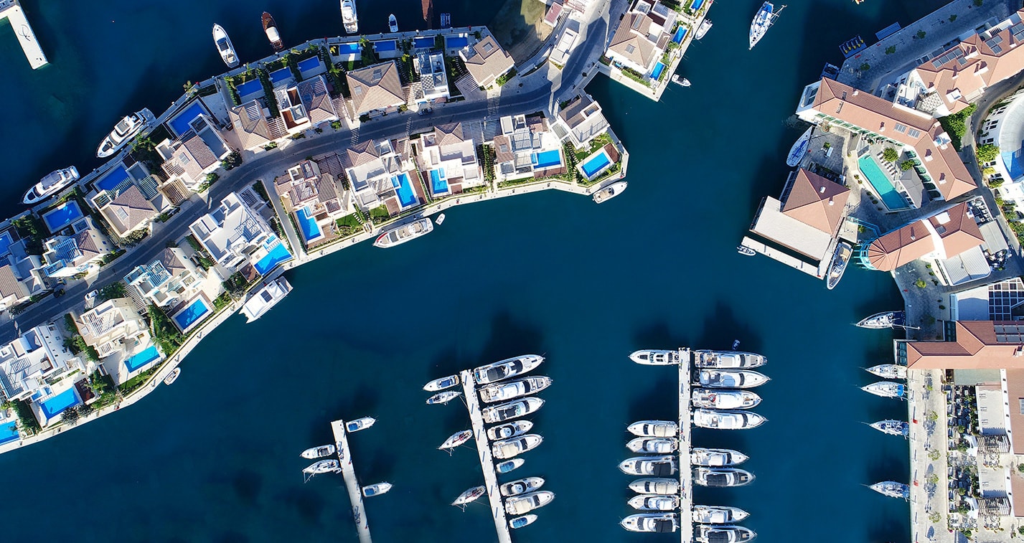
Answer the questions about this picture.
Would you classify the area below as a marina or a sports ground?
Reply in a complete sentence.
What you see here is a marina.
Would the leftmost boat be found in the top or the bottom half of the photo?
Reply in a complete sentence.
The leftmost boat is in the top half of the image.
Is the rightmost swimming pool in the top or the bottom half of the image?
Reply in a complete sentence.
The rightmost swimming pool sits in the top half of the picture.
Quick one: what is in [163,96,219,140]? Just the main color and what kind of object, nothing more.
blue swimming pool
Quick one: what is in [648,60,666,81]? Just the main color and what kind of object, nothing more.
blue swimming pool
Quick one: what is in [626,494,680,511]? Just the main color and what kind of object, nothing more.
white boat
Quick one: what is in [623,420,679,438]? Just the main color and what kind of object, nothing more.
white boat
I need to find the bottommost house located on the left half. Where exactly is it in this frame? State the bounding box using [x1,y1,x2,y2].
[0,327,90,403]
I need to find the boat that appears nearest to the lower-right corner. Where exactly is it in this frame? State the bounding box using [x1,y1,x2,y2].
[867,482,912,503]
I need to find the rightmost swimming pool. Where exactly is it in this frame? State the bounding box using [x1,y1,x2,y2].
[854,151,913,215]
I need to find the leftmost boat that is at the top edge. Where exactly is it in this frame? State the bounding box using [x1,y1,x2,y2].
[211,21,240,70]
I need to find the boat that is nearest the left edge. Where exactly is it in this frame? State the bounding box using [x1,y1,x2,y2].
[16,165,82,204]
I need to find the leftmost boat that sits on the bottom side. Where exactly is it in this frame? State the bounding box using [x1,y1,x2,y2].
[165,368,185,386]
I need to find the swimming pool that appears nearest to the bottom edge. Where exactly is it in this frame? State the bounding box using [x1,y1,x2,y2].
[0,418,23,446]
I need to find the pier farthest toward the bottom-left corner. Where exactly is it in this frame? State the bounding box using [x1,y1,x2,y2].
[331,419,372,543]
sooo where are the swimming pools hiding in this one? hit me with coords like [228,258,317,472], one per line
[120,343,165,378]
[421,167,463,196]
[267,64,295,88]
[31,378,95,422]
[337,40,363,60]
[293,204,339,247]
[0,231,18,255]
[163,96,219,140]
[444,34,470,56]
[92,154,136,193]
[531,147,567,177]
[412,34,437,52]
[385,169,426,215]
[854,151,913,215]
[576,143,620,182]
[298,52,325,80]
[240,235,296,282]
[166,290,215,335]
[0,418,23,446]
[671,25,689,45]
[372,38,398,57]
[691,0,705,12]
[40,201,85,233]
[648,60,666,81]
